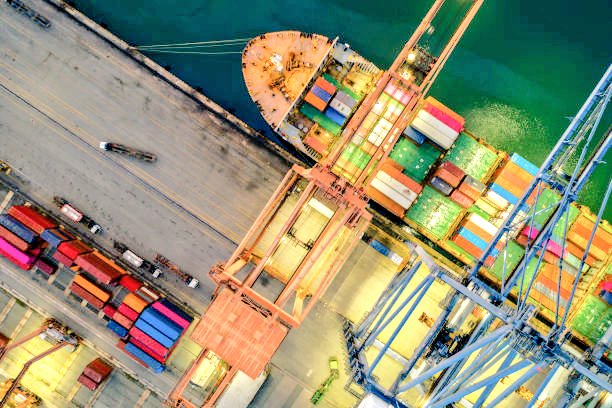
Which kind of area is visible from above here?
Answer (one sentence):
What you see here is a port.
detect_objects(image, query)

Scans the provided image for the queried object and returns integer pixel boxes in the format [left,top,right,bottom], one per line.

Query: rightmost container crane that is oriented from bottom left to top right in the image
[336,66,612,408]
